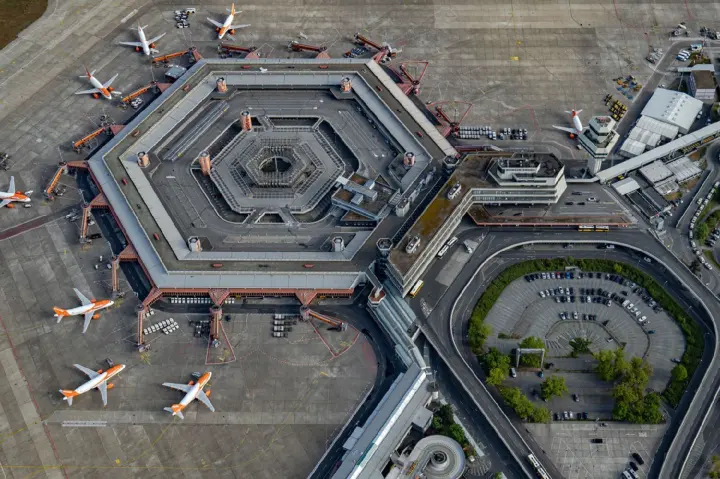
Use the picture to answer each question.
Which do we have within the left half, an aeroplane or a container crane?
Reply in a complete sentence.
What appears within the left half is an aeroplane.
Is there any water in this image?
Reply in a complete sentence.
No, water can't be seen anywhere here.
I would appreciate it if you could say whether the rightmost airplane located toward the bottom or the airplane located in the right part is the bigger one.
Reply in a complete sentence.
The rightmost airplane located toward the bottom is bigger than the airplane located in the right part.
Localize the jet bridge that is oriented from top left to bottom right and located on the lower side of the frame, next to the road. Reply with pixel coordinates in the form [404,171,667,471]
[295,290,347,330]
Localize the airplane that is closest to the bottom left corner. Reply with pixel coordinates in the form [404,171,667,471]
[59,364,125,407]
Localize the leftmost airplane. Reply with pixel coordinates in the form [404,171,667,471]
[0,177,30,209]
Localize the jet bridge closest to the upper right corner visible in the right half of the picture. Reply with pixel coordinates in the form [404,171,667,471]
[433,103,458,136]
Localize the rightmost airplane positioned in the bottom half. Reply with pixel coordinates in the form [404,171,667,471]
[164,372,214,419]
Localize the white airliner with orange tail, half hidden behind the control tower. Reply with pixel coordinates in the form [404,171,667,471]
[553,104,584,139]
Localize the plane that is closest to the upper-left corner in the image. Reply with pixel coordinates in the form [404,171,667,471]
[76,67,119,99]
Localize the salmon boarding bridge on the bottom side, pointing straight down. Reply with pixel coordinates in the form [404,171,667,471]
[207,290,230,345]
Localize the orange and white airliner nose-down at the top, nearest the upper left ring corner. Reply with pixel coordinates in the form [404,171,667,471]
[208,3,249,37]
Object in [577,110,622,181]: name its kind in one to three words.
building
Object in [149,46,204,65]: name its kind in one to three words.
jet bridge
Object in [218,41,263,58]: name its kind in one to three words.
jet bridge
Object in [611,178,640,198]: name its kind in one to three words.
shed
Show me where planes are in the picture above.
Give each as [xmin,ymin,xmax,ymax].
[59,364,125,407]
[121,20,165,53]
[164,372,214,419]
[553,104,584,139]
[0,177,30,209]
[208,3,249,37]
[53,288,113,333]
[76,67,119,99]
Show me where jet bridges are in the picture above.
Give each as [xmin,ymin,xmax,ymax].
[79,191,110,243]
[352,32,389,65]
[398,63,419,96]
[44,159,91,196]
[110,240,138,297]
[69,121,125,151]
[149,46,204,65]
[135,283,167,352]
[207,290,230,345]
[287,41,333,58]
[218,41,263,58]
[433,103,458,136]
[118,79,173,106]
[295,290,347,330]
